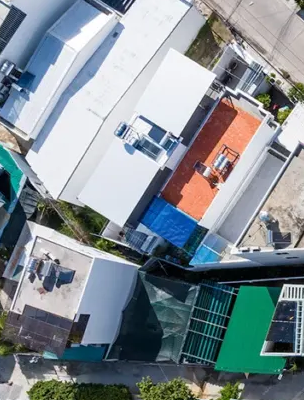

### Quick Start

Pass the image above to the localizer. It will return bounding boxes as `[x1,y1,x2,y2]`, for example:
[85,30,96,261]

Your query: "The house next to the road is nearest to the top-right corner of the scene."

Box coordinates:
[211,43,270,101]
